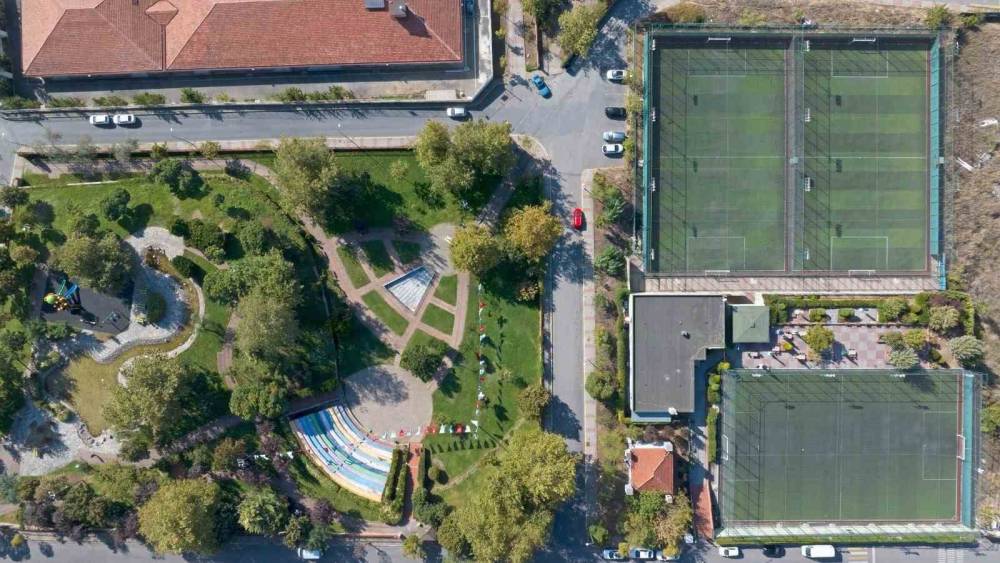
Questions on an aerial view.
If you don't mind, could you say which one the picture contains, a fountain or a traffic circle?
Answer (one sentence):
The one in the frame is a fountain.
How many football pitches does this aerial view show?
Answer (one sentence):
The photo contains 3 football pitches.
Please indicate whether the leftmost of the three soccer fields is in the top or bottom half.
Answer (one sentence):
Seen from above, the leftmost of the three soccer fields lies in the top half of the view.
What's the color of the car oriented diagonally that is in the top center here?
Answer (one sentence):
In this view, the car oriented diagonally that is in the top center is blue.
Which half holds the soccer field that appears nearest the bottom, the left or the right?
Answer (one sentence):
The soccer field that appears nearest the bottom appears in the right half of the scene.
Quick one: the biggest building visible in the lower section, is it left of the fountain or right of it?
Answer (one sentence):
Relative to the fountain, the biggest building visible in the lower section lies to the right.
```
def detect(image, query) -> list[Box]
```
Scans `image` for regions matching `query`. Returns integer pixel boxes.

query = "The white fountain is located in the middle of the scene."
[385,265,435,310]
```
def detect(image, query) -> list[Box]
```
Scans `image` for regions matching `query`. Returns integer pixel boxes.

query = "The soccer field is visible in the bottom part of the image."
[720,371,963,524]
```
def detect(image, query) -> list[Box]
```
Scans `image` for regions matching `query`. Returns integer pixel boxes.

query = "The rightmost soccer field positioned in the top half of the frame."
[787,36,931,275]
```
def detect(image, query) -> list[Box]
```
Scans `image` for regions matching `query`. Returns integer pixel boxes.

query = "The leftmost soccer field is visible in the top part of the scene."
[642,36,788,275]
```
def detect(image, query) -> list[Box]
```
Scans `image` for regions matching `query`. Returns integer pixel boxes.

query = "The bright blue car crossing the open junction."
[531,75,553,99]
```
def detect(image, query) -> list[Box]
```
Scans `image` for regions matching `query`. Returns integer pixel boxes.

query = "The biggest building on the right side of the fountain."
[631,295,727,418]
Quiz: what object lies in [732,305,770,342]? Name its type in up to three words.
building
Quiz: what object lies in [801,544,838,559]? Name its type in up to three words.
vehicle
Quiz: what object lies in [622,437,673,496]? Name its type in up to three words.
house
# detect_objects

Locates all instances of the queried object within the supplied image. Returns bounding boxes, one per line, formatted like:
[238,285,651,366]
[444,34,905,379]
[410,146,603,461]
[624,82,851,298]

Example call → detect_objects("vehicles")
[573,208,583,229]
[603,131,625,141]
[602,548,625,559]
[801,544,838,559]
[114,114,136,125]
[299,547,320,558]
[655,549,669,561]
[762,545,784,557]
[602,143,623,154]
[90,114,111,125]
[531,75,553,99]
[629,547,653,559]
[605,71,626,80]
[446,107,466,117]
[604,107,626,118]
[718,545,738,556]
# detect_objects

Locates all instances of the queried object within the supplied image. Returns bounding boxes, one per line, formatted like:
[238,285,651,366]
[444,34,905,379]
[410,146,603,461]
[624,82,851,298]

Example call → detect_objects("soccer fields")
[642,36,788,275]
[787,36,931,275]
[720,371,963,524]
